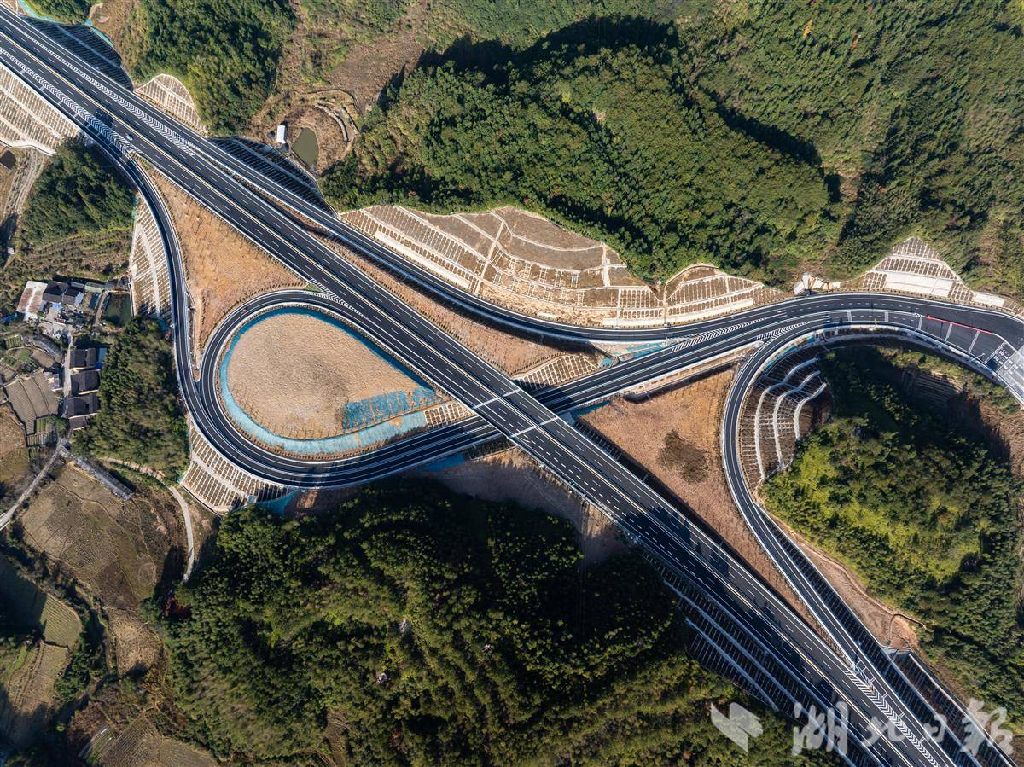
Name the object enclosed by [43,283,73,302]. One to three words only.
house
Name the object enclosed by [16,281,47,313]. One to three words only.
shed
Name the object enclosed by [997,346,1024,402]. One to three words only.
toll station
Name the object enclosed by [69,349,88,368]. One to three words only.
house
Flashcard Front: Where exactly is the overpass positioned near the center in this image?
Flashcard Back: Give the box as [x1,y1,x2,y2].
[473,381,558,448]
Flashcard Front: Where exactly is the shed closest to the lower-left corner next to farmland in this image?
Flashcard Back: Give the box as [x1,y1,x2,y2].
[61,449,135,501]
